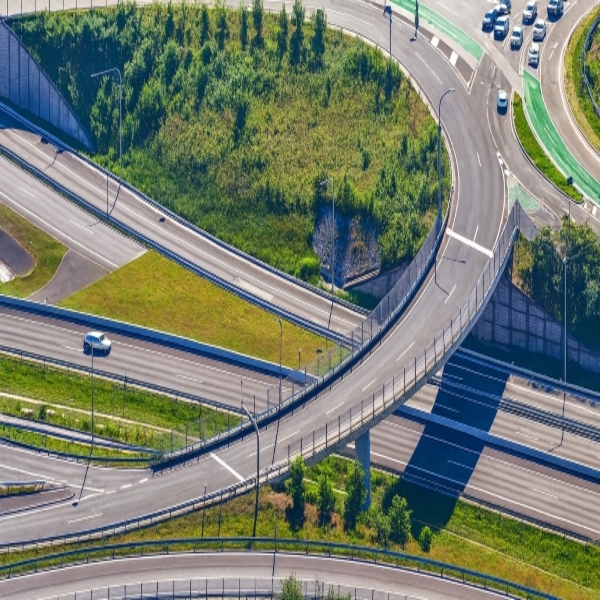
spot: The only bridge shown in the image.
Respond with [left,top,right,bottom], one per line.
[135,199,515,504]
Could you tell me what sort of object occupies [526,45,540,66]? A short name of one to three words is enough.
car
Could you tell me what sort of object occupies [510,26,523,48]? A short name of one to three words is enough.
vehicle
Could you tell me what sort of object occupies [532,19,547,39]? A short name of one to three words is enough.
car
